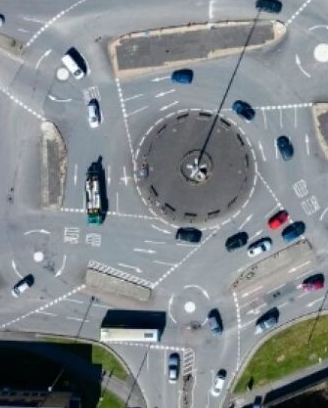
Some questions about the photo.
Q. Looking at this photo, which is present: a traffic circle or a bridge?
traffic circle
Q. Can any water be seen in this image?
No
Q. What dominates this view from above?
paved ground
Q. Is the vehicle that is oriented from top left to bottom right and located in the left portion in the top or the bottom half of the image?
top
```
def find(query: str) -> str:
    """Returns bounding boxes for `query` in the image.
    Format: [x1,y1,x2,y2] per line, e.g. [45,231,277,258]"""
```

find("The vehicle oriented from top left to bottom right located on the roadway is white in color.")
[59,51,86,79]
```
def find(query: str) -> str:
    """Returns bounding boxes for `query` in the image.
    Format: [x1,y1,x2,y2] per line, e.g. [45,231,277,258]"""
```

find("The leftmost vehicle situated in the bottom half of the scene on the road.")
[12,277,34,297]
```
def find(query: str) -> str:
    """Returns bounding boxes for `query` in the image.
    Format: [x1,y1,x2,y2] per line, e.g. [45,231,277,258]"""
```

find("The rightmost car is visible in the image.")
[302,277,325,292]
